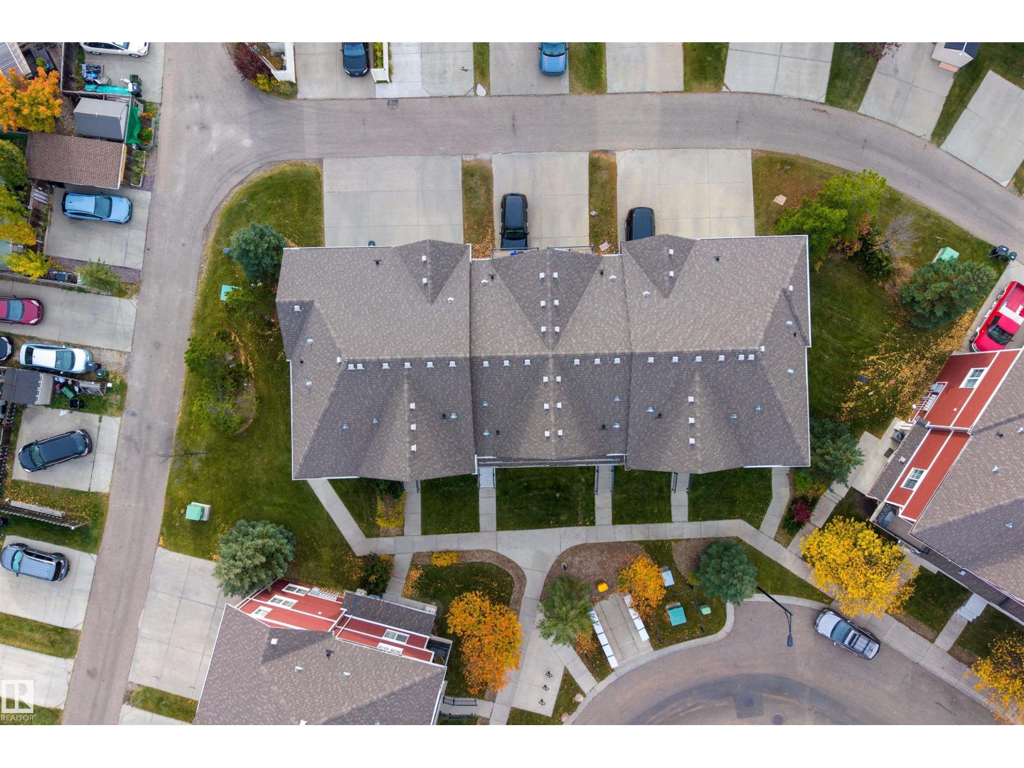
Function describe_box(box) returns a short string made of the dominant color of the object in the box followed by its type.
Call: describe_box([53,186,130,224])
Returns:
blue car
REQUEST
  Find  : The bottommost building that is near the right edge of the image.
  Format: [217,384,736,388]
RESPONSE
[848,344,1024,627]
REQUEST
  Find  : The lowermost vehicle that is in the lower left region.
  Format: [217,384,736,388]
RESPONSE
[0,543,69,585]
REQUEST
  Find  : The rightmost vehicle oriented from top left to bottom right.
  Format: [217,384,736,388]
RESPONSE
[814,606,890,667]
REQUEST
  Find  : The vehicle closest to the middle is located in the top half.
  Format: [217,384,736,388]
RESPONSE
[497,186,532,253]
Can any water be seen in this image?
No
